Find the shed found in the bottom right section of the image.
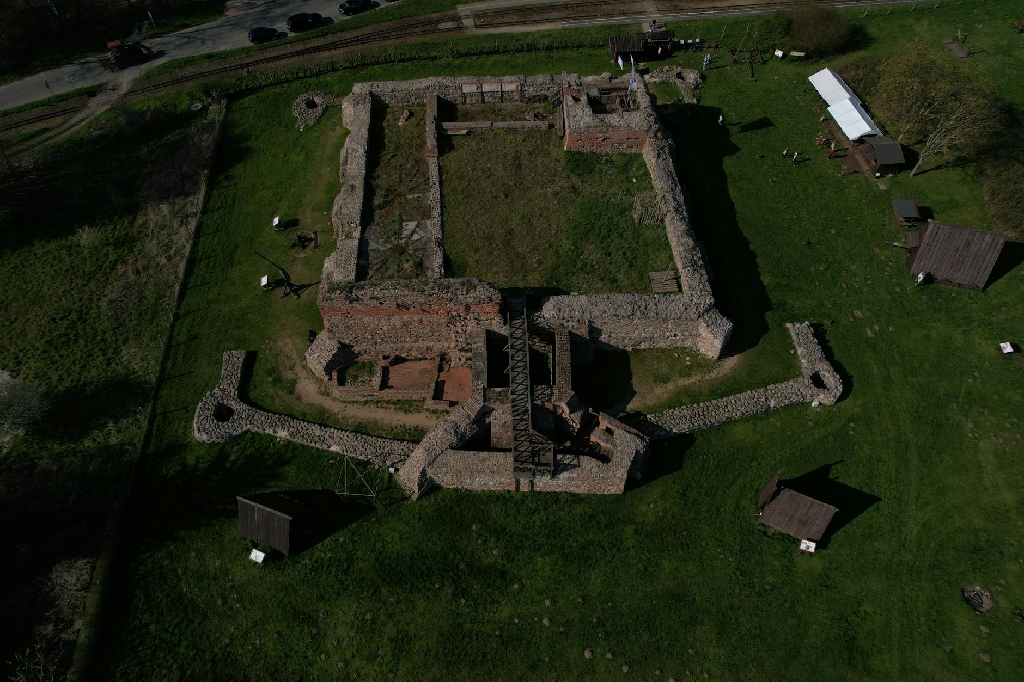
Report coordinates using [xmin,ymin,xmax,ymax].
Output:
[754,468,841,541]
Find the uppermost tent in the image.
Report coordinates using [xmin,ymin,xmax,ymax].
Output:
[795,67,864,126]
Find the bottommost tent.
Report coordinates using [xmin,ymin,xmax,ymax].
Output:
[813,98,885,160]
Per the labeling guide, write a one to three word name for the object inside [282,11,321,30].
car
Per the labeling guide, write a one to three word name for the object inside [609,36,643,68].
shed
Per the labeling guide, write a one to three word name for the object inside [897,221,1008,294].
building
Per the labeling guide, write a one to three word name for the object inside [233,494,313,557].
shed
